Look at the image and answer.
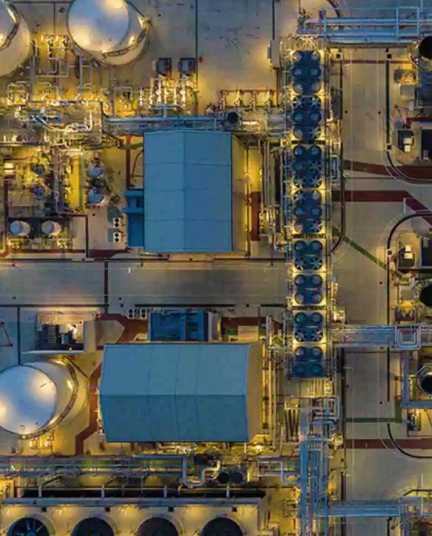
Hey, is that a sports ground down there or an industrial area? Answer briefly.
industrial area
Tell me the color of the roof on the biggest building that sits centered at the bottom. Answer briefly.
blue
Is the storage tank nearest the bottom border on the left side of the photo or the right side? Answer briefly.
left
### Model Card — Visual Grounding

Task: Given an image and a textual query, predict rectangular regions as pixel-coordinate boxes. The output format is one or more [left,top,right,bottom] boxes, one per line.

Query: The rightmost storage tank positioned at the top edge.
[65,0,152,70]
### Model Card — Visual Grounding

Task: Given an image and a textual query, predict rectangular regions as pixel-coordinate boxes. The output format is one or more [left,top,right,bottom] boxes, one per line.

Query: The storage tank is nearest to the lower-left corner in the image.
[0,357,89,441]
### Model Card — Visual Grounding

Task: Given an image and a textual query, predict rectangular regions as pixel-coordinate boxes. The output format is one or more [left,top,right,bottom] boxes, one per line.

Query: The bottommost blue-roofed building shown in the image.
[97,343,265,450]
